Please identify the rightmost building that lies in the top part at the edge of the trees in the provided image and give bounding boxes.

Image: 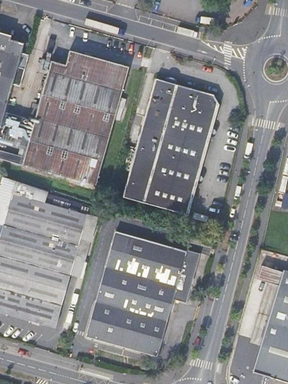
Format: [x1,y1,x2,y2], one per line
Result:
[124,80,219,214]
